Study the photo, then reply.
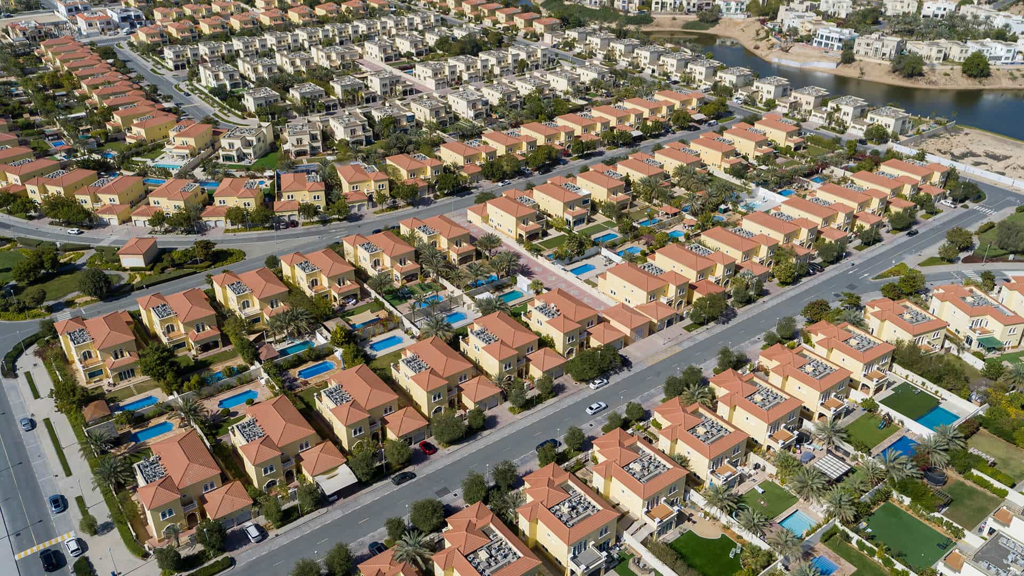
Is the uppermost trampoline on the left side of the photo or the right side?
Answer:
right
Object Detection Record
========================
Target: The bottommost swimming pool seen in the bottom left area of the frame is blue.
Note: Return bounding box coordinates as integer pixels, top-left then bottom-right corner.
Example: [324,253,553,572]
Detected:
[126,419,178,445]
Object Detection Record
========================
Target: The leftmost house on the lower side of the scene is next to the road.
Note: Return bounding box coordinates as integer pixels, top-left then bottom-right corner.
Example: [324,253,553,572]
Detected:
[54,314,136,385]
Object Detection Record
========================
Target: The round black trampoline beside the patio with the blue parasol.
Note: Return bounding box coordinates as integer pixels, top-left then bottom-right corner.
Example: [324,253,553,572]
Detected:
[792,425,816,447]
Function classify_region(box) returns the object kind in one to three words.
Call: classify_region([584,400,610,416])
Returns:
car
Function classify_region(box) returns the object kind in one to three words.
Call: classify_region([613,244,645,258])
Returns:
swimming pool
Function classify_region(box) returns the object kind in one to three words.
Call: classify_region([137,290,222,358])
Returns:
house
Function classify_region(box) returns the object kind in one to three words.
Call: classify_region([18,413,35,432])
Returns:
car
